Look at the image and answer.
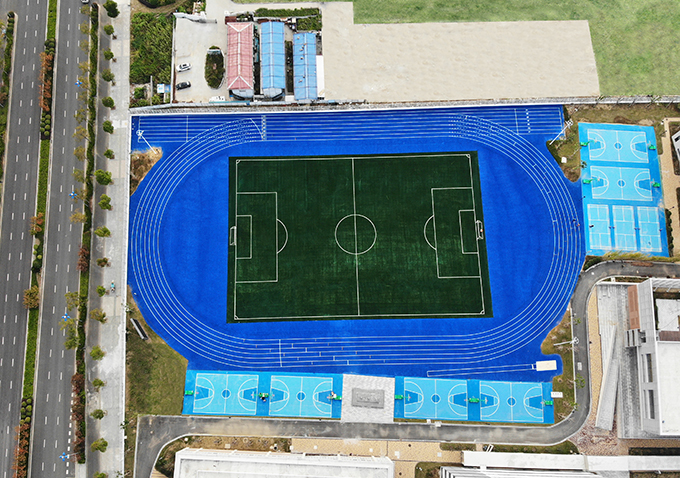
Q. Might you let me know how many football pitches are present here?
1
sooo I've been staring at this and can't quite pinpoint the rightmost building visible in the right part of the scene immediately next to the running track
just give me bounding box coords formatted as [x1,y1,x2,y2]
[590,277,680,439]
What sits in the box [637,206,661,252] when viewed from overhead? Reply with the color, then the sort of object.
blue sports court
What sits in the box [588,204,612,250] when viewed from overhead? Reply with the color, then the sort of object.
blue sports court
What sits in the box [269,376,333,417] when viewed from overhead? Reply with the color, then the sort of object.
blue basketball court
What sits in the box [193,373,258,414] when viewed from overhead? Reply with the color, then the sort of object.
blue basketball court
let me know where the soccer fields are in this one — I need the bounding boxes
[226,151,493,323]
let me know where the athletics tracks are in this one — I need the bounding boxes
[128,105,587,382]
